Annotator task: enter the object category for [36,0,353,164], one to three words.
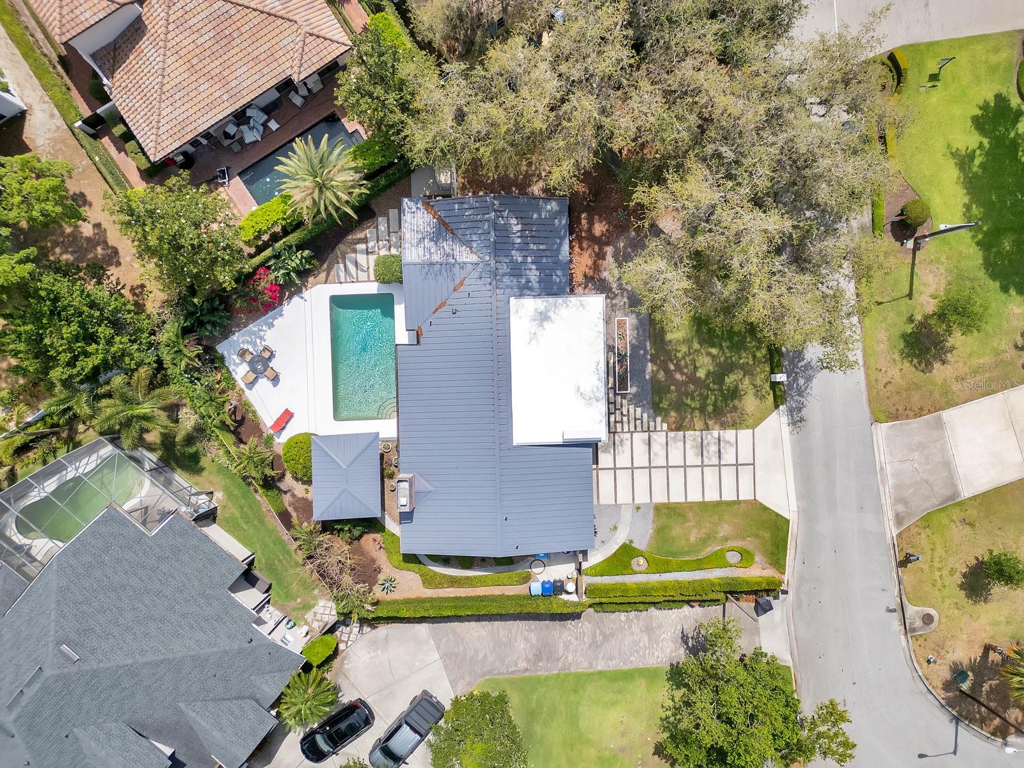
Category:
house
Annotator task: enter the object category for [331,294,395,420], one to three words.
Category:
swimming pool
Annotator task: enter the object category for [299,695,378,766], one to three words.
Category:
car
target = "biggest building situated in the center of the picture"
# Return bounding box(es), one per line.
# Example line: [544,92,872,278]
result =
[394,194,607,558]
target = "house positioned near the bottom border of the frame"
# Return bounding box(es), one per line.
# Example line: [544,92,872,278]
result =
[0,503,307,768]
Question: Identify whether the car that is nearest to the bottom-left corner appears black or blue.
black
